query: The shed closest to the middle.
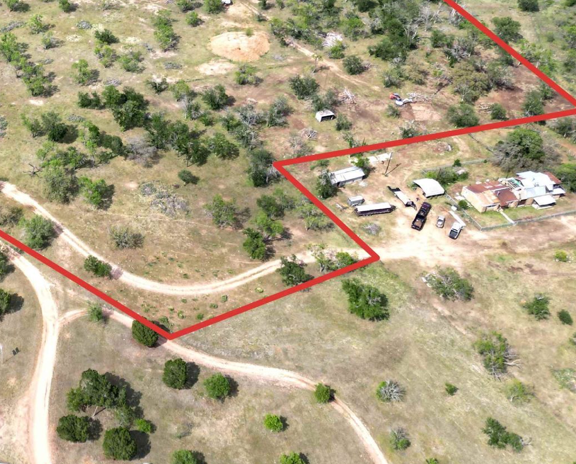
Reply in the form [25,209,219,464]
[321,157,367,184]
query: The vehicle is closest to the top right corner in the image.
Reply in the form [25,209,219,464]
[388,89,406,102]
